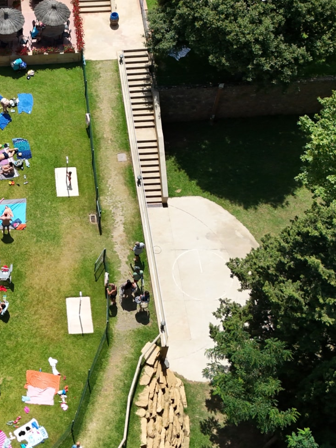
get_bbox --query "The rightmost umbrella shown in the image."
[34,2,71,30]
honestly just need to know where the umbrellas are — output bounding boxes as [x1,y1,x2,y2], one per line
[0,12,25,38]
[34,2,71,30]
